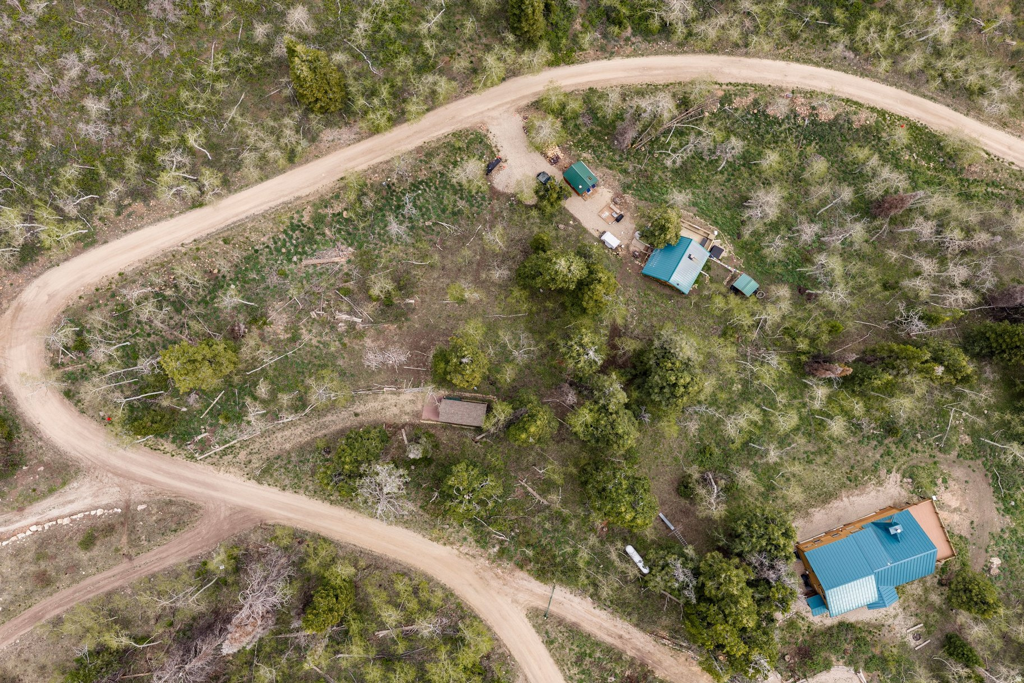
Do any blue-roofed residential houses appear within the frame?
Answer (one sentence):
Yes, you can see a blue-roofed residential house in this photo.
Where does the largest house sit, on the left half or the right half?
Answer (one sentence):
The largest house appears in the right half of the scene.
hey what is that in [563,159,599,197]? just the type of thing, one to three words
building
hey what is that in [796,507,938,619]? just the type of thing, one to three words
house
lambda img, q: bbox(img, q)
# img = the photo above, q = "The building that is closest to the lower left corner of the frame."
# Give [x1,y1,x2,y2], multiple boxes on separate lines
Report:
[439,398,488,427]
